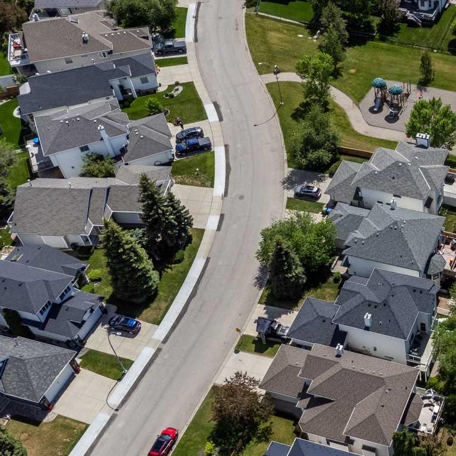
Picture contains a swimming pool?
No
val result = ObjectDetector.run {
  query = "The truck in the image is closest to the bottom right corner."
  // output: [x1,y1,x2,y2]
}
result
[252,307,292,339]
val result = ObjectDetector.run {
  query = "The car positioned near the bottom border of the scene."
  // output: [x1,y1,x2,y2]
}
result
[146,424,176,456]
